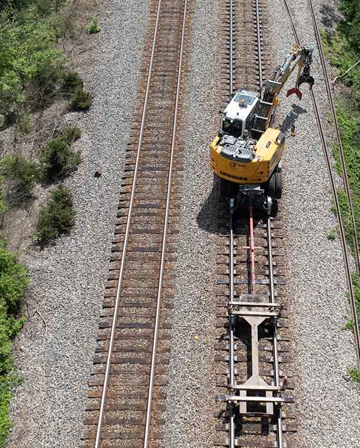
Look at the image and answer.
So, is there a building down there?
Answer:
No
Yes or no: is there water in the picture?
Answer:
No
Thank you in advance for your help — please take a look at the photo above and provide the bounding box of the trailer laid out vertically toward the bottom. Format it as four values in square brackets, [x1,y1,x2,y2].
[226,204,290,422]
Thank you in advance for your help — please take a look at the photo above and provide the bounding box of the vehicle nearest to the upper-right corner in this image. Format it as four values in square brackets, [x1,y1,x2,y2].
[211,44,319,210]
